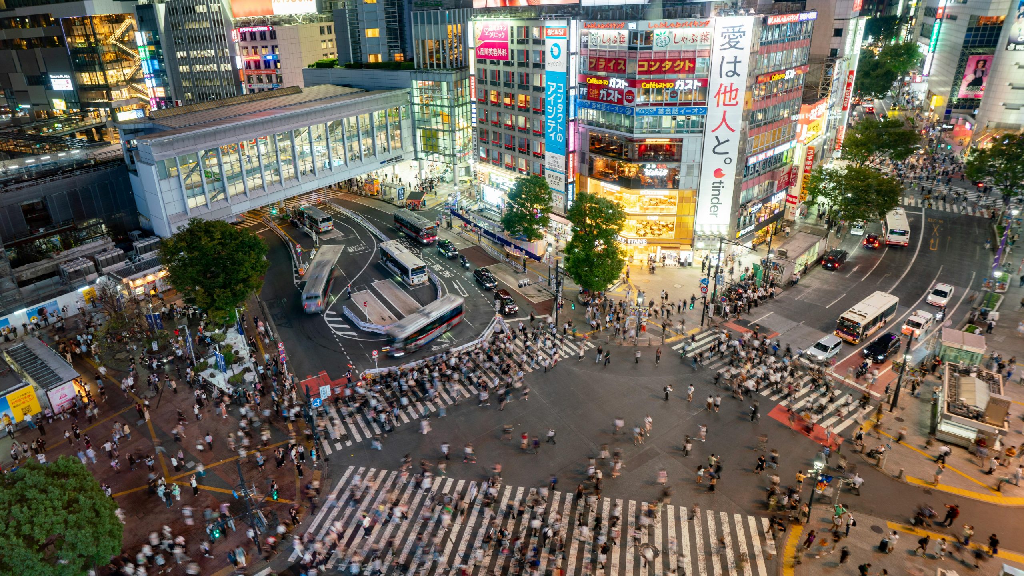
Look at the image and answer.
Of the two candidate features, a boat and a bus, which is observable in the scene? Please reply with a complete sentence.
Visible in the photo is a bus.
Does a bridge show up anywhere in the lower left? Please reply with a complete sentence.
No, I see no bridge in the lower left.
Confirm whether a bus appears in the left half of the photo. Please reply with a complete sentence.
Yes, a bus shows up in the left half of the photo.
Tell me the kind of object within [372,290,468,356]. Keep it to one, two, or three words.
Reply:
bus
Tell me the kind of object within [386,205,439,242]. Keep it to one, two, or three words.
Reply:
bus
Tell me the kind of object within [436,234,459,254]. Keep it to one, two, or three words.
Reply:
car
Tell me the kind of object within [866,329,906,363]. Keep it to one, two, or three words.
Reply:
car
